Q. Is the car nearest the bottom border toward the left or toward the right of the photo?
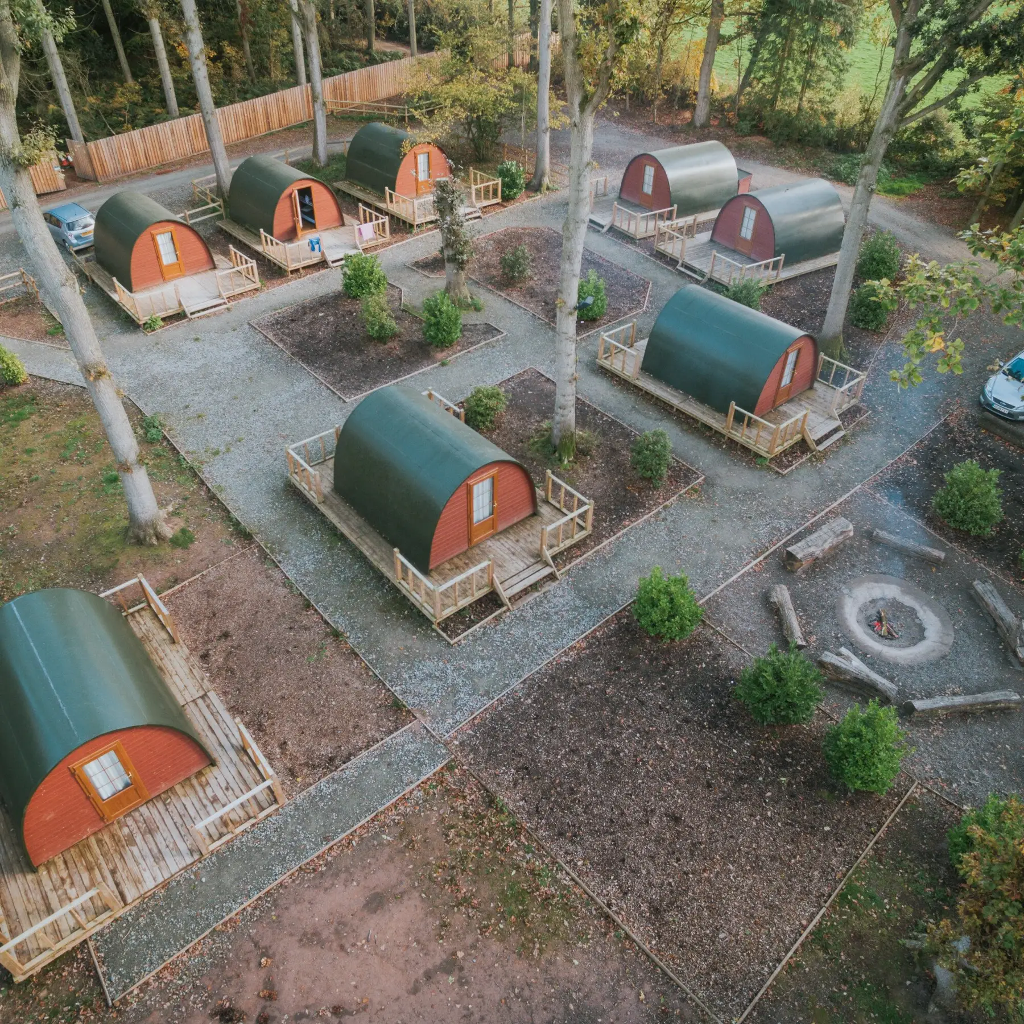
right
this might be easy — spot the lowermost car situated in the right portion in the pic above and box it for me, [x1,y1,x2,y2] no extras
[979,353,1024,422]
